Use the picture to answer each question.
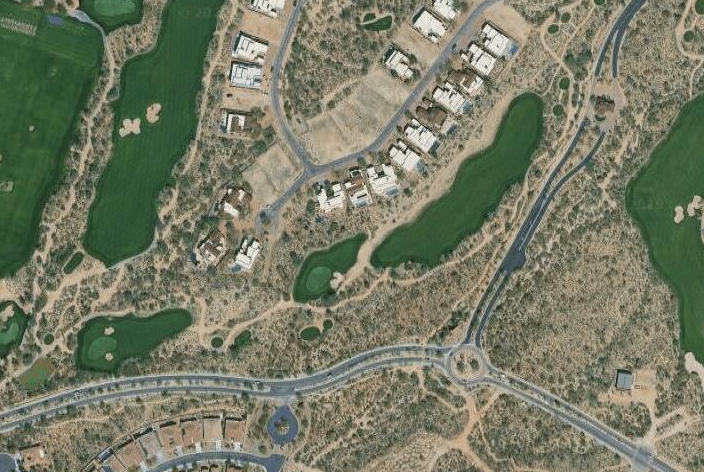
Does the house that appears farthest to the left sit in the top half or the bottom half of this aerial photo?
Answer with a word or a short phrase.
bottom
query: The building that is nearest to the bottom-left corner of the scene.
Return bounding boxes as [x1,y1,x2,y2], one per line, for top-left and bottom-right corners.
[22,445,46,469]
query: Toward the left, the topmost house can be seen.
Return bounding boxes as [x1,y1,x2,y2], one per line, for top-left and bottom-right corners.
[253,0,284,18]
